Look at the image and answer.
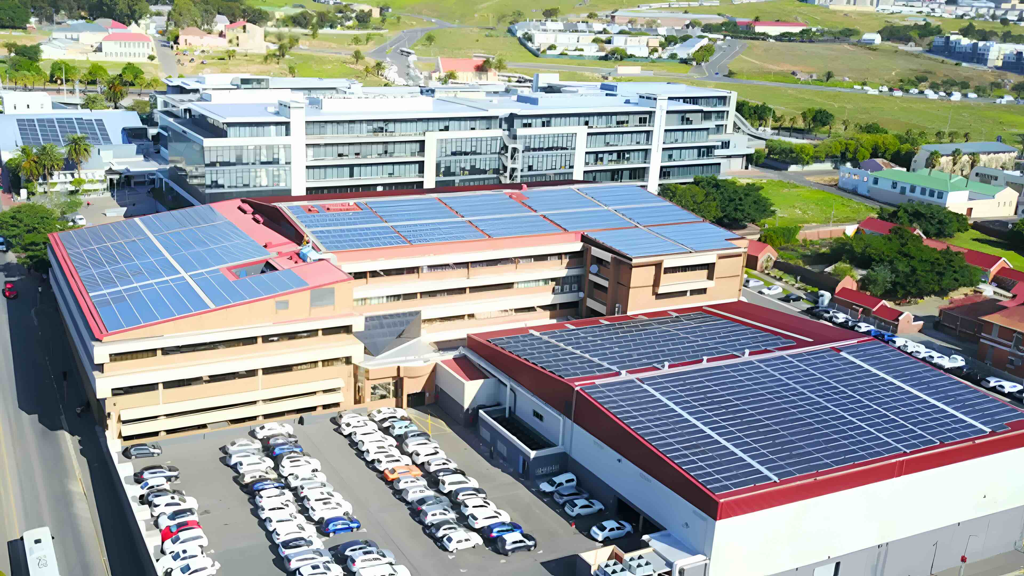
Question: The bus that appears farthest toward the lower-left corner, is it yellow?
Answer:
No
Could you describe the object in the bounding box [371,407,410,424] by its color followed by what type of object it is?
white car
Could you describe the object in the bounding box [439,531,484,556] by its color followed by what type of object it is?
white car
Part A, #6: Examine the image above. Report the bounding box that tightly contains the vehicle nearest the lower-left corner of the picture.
[14,529,58,576]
